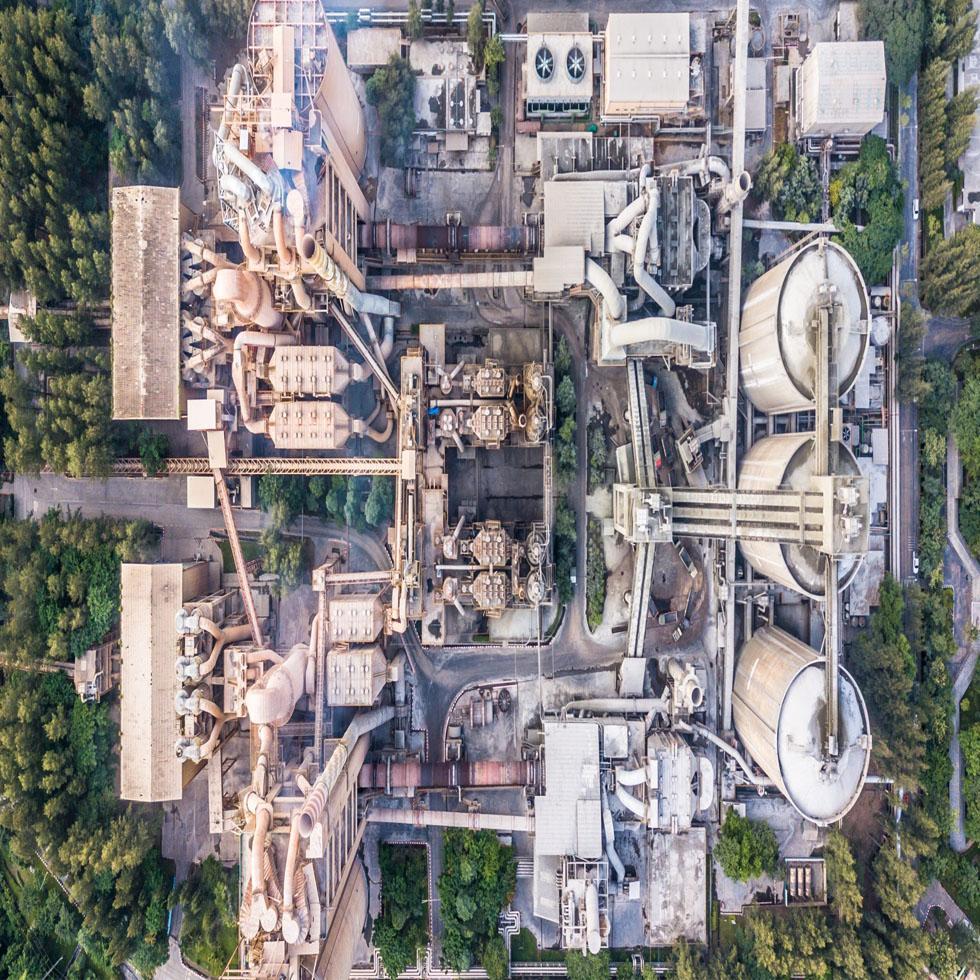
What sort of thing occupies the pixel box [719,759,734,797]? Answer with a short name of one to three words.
shed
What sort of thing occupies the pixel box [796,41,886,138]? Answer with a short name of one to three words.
building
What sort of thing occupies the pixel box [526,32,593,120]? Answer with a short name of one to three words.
cooling tower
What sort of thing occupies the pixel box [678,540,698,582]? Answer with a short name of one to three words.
vehicle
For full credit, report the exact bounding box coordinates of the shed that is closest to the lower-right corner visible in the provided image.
[798,814,818,840]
